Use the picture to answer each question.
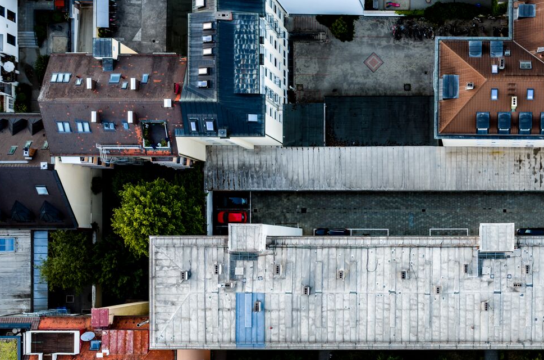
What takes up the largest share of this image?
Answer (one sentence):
The bulk of the photo consists of buildings.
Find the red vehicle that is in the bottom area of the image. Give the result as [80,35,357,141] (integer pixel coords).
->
[217,209,249,225]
